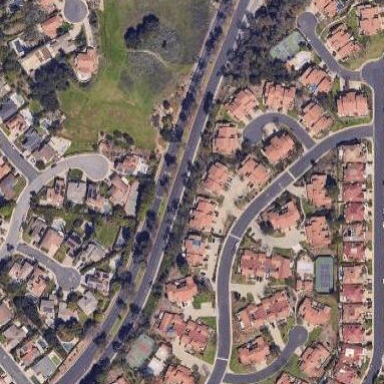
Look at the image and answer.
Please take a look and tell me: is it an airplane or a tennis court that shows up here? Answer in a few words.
tennis court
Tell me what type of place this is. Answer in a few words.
residential area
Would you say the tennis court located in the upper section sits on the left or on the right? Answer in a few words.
right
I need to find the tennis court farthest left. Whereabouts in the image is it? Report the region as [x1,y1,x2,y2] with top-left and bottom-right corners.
[125,333,154,368]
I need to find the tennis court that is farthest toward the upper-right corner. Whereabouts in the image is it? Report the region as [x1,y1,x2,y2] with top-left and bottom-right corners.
[270,28,304,60]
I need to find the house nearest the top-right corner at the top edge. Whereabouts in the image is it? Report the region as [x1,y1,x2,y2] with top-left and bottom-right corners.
[359,4,383,35]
